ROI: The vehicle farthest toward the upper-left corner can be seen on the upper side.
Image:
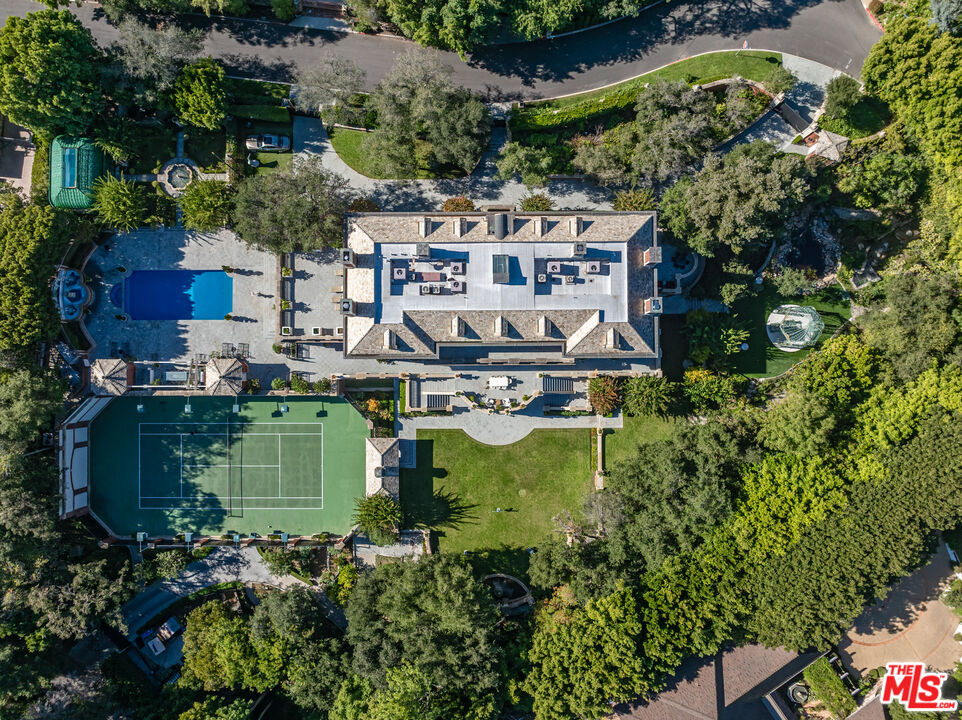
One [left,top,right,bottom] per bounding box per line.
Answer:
[248,132,290,152]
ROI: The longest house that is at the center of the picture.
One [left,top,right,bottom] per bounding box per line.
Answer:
[340,203,662,365]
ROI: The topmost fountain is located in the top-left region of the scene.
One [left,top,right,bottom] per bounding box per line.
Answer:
[166,164,194,191]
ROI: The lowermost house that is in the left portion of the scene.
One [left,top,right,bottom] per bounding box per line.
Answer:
[365,438,401,504]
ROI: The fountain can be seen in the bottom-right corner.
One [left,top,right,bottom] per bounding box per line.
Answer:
[786,681,809,704]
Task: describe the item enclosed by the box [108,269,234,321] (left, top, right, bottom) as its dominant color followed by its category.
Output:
blue swimming pool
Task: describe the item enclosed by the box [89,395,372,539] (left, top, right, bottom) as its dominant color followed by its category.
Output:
green tennis court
